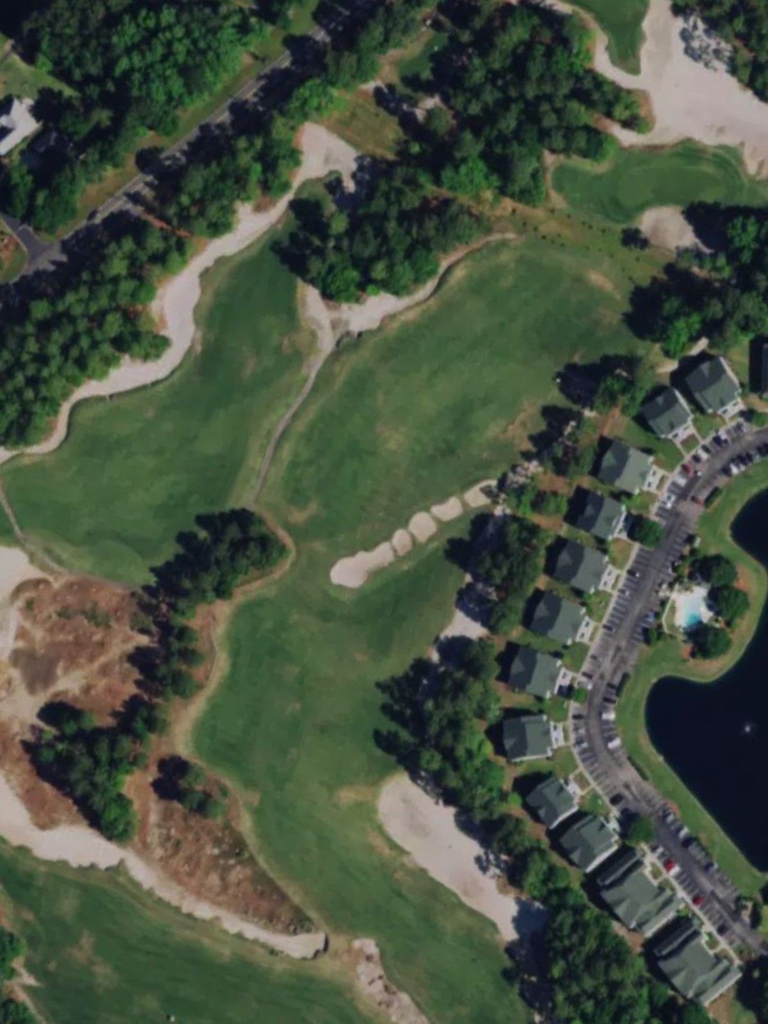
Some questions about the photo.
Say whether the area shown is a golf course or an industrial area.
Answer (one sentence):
What you see here is a golf course.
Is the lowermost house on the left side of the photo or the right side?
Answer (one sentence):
You can find the lowermost house on the right side of the picture.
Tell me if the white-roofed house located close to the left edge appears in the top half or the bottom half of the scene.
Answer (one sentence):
Seen from above, the white-roofed house located close to the left edge lies in the top half of the view.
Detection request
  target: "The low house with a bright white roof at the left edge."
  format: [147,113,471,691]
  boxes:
[0,98,40,158]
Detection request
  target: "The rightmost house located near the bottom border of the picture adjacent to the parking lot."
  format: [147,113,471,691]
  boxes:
[661,922,742,1006]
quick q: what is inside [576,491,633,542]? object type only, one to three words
house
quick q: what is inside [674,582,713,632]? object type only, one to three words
swimming pool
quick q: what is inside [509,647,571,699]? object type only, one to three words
house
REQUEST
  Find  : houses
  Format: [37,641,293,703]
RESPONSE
[0,98,40,158]
[555,542,616,595]
[563,815,623,872]
[686,358,744,416]
[643,389,698,442]
[576,491,633,542]
[504,715,561,762]
[661,922,742,1006]
[598,440,660,497]
[531,592,592,645]
[527,775,583,828]
[602,853,683,937]
[509,647,571,699]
